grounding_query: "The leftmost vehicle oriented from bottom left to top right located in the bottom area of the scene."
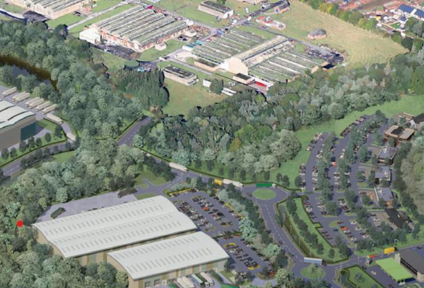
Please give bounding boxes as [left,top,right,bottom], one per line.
[50,204,65,217]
